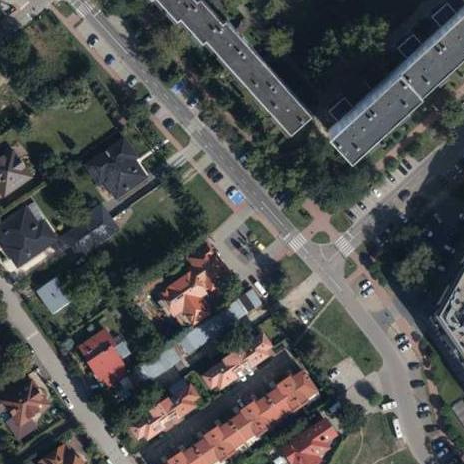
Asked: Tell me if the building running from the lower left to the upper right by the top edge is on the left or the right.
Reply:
right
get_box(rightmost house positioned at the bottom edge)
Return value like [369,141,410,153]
[277,418,338,464]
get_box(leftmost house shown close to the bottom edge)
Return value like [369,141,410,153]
[0,373,51,442]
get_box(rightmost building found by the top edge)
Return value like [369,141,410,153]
[321,11,464,167]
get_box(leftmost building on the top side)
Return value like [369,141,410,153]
[0,146,34,199]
